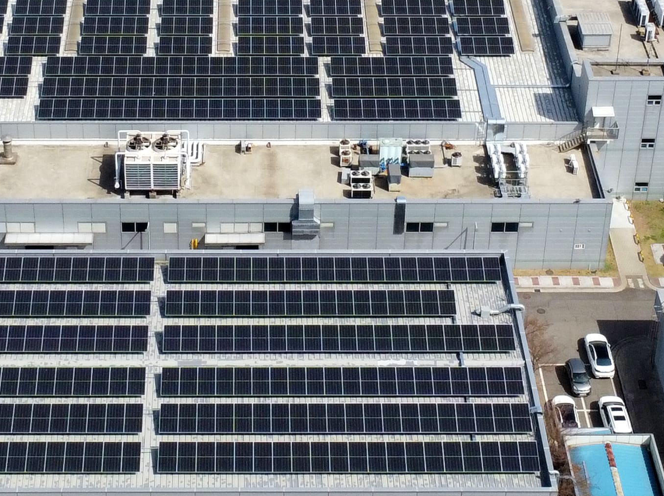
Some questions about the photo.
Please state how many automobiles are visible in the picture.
4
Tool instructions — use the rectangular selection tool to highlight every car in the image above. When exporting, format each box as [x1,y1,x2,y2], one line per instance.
[584,334,617,380]
[599,396,639,434]
[564,355,596,399]
[551,396,585,444]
